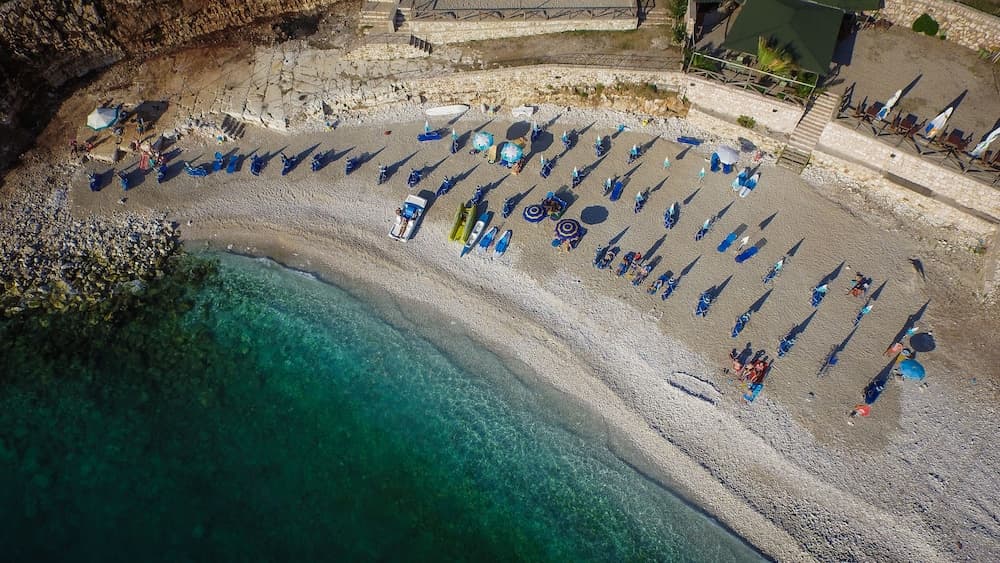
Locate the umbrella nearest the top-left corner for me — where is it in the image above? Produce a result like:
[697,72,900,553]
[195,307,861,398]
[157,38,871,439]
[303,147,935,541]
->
[85,107,125,141]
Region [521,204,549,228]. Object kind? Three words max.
umbrella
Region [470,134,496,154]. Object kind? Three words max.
umbrella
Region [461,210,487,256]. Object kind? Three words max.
boat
